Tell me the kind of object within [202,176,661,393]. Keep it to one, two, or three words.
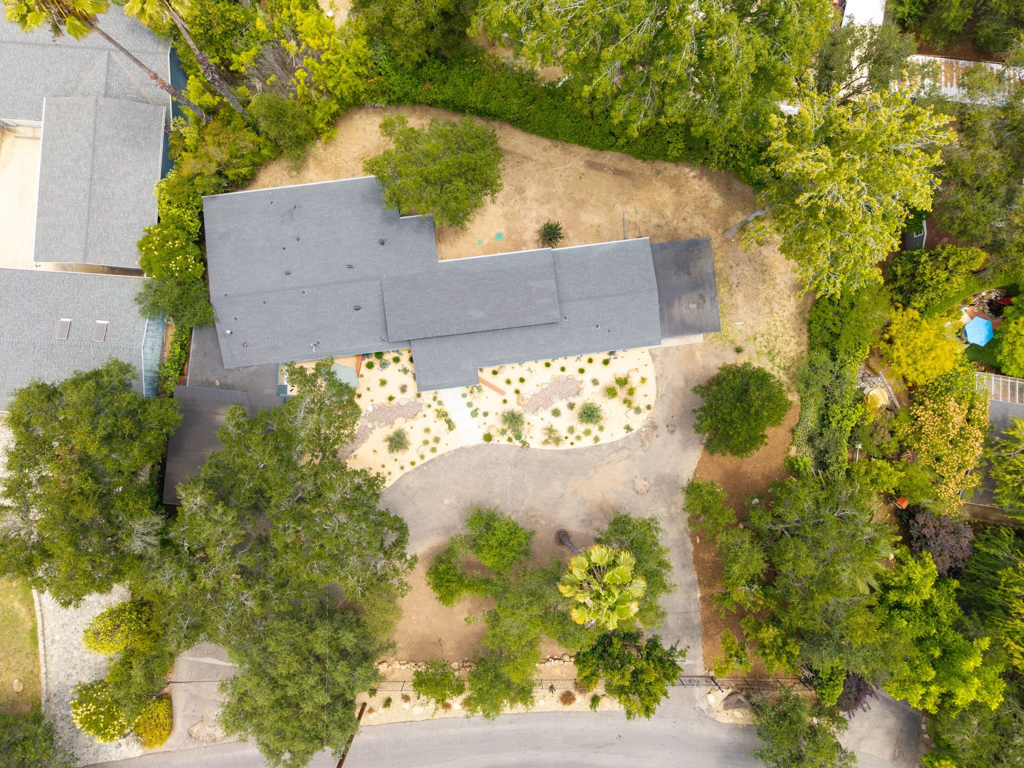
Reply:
house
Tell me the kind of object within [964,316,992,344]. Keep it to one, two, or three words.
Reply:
umbrella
